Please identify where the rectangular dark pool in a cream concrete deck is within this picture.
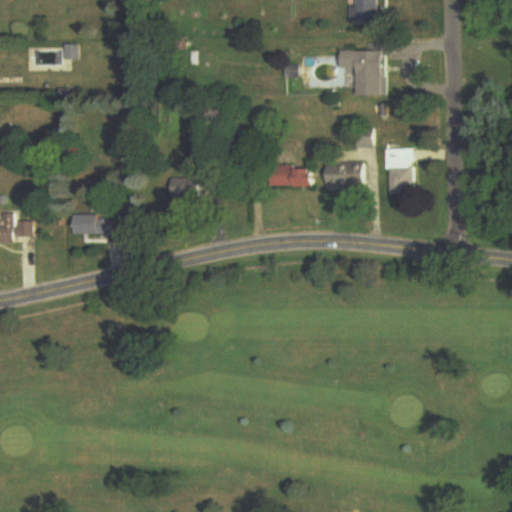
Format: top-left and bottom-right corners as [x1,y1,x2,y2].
[28,48,72,71]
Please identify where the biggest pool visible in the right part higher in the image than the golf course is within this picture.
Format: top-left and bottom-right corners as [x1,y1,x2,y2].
[304,56,345,88]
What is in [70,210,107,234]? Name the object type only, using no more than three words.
house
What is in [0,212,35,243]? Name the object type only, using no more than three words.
house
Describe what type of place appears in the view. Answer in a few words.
golf course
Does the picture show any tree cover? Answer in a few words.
Yes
